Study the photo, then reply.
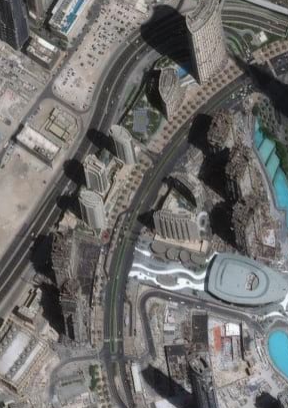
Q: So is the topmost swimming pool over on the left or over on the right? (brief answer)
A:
left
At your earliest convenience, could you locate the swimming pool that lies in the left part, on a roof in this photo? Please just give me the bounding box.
[60,0,84,32]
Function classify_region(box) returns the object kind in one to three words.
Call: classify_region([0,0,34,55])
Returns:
building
